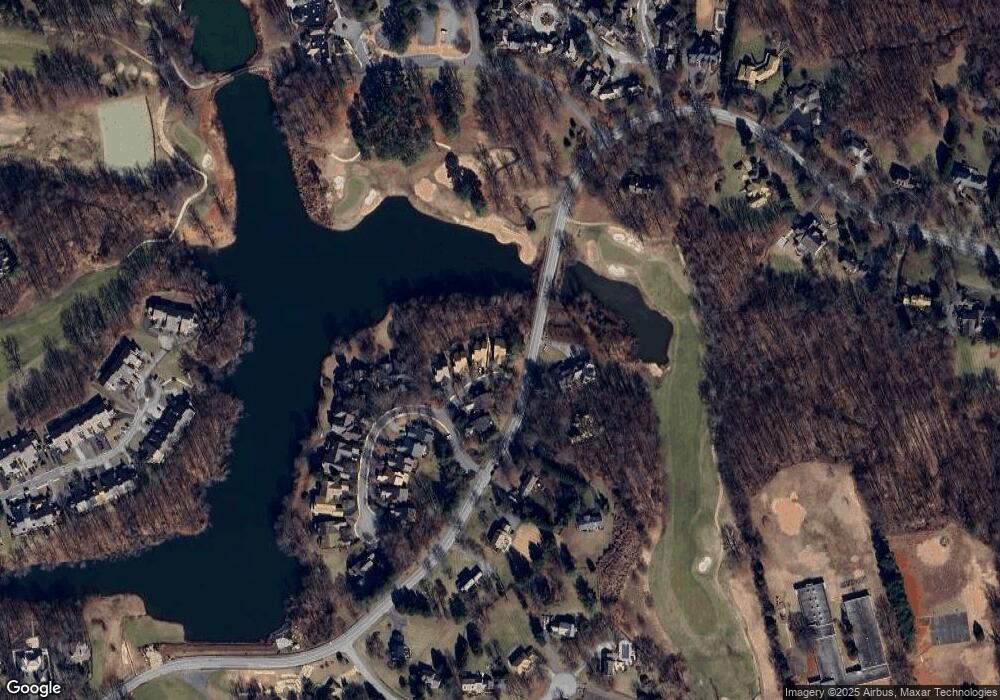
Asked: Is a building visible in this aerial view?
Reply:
Yes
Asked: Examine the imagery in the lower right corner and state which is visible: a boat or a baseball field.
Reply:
baseball field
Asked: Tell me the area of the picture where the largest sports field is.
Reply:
top left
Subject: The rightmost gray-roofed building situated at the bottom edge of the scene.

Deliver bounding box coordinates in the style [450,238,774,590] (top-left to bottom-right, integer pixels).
[844,595,891,689]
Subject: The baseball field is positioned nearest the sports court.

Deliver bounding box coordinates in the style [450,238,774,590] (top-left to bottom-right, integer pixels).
[916,535,951,564]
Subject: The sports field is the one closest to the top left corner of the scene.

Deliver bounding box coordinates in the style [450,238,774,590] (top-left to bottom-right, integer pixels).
[97,97,155,168]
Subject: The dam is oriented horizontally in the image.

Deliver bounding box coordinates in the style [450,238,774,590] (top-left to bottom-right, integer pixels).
[187,641,273,654]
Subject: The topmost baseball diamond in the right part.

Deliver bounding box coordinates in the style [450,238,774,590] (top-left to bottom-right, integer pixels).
[772,495,804,527]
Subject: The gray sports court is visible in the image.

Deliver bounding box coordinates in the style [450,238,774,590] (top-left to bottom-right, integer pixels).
[931,612,970,645]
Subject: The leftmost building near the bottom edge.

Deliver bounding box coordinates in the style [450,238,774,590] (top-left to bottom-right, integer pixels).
[20,652,47,681]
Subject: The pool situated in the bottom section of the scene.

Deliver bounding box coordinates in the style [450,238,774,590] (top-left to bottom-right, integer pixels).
[619,641,632,661]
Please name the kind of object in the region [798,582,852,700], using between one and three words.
building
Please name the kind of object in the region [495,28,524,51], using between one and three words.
house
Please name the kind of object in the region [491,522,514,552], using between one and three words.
house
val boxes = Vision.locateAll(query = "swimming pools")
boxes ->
[715,11,726,30]
[619,641,632,661]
